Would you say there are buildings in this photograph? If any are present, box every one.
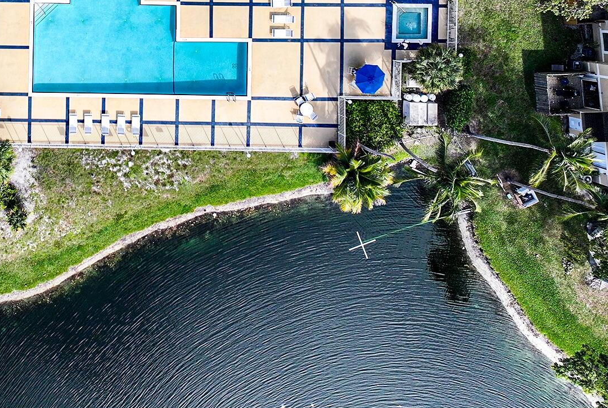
[397,99,436,125]
[578,59,608,198]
